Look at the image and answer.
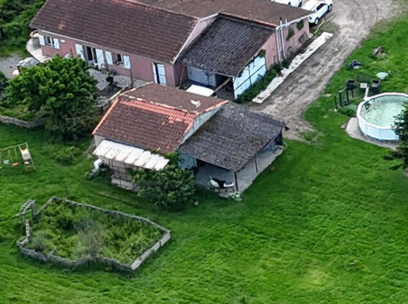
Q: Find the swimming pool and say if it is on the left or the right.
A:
right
